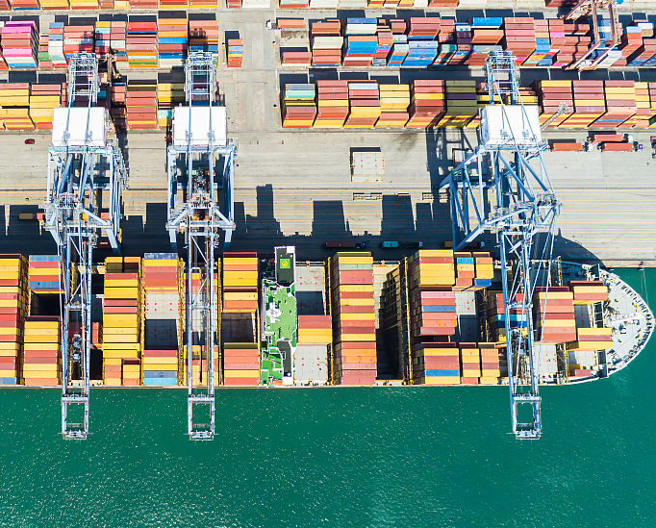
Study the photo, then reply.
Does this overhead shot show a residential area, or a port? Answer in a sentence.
The area seen from above is a port.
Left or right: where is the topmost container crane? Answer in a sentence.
You can find the topmost container crane on the right side of the picture.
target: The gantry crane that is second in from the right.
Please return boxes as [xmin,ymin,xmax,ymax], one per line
[424,45,564,448]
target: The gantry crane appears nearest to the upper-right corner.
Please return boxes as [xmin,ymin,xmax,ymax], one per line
[560,0,621,71]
